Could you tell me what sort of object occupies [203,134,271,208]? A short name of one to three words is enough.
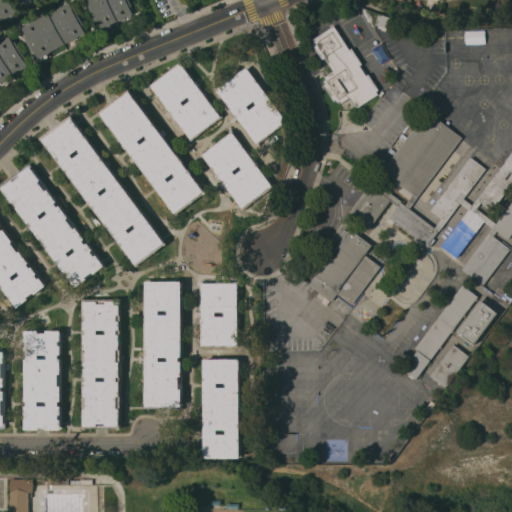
building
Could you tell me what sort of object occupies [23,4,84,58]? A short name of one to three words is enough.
house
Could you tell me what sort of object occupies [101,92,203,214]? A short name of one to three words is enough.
building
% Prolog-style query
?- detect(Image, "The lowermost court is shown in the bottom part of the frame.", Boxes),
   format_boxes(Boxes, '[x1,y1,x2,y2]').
[325,440,348,462]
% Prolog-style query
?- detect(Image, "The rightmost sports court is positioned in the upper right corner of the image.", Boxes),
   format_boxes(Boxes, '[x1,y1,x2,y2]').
[446,29,512,144]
